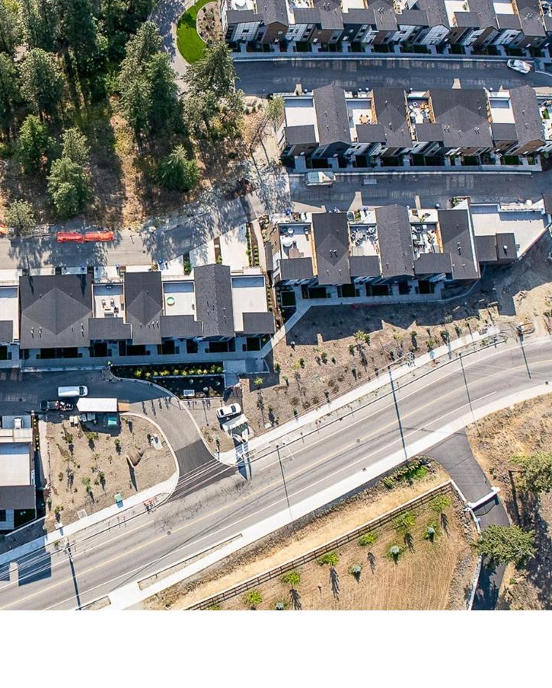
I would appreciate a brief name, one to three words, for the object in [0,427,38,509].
house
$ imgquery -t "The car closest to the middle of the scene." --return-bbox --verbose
[219,404,243,418]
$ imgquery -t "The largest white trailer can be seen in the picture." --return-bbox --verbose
[79,396,126,412]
